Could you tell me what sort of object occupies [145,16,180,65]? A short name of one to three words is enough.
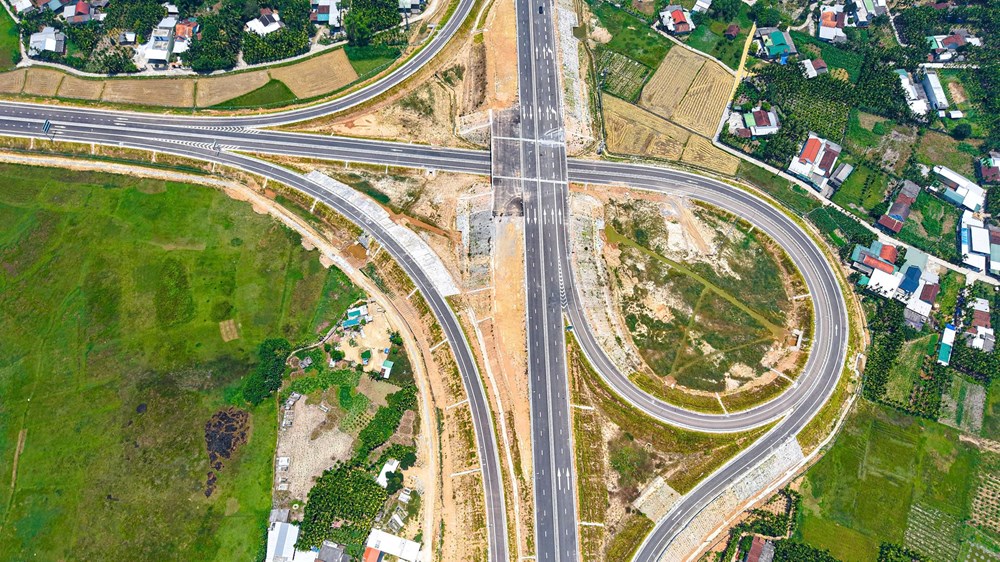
house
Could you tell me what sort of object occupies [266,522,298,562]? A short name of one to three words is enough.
barn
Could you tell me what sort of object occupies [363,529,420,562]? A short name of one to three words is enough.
barn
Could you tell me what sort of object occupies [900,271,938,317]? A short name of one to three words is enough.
house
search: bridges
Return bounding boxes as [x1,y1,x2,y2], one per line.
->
[491,107,568,216]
